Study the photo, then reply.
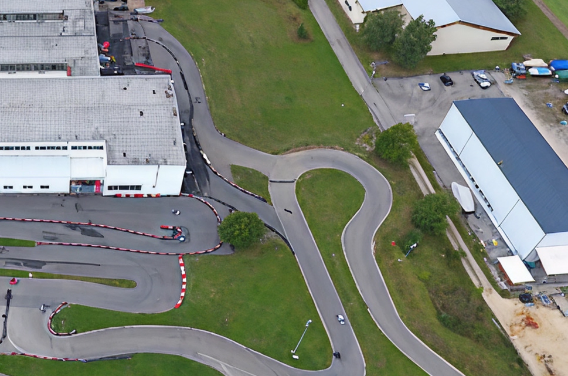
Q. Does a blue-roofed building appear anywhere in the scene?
Yes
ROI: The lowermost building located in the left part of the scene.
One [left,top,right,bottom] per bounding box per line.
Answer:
[0,76,188,195]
